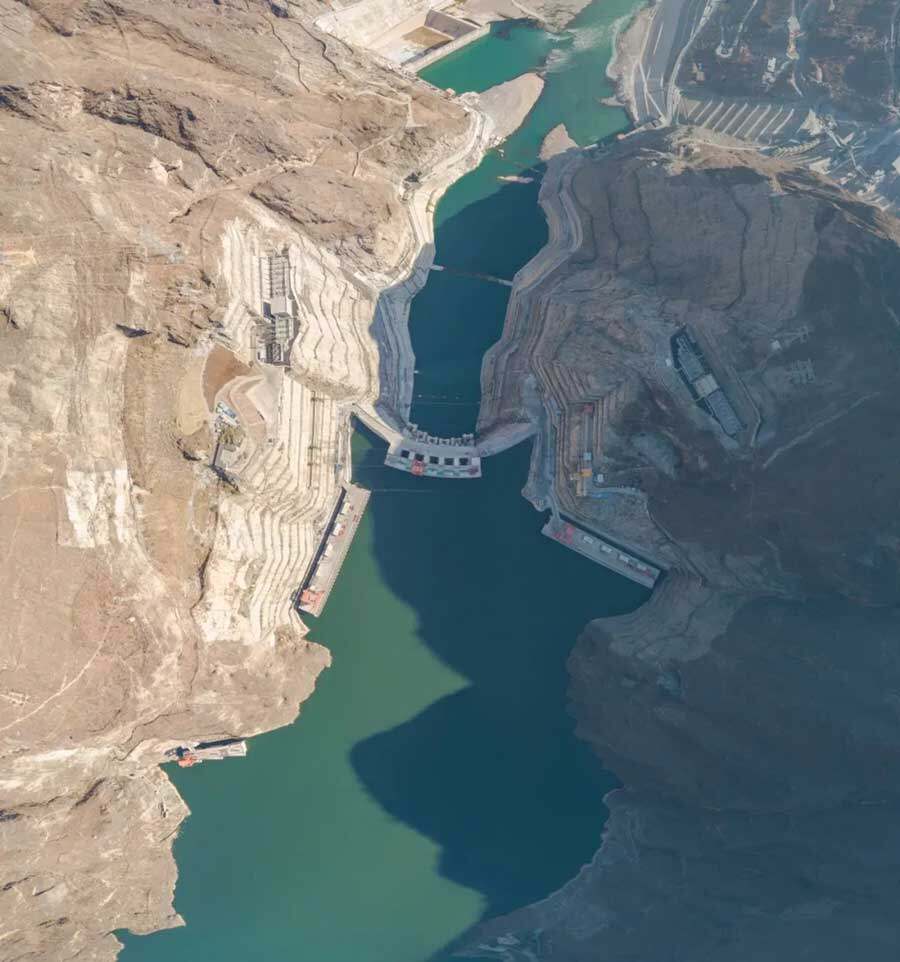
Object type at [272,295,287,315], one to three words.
building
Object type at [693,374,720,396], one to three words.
building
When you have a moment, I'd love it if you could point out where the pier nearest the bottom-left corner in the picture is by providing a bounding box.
[185,742,246,763]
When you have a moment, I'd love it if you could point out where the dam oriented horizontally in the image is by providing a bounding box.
[350,404,540,479]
